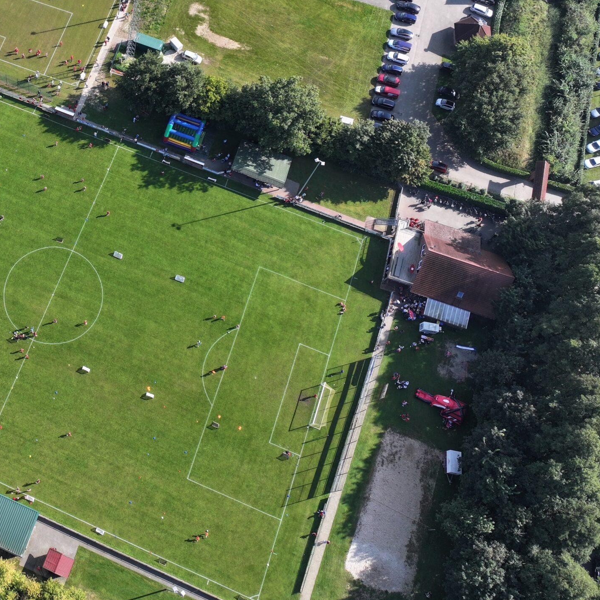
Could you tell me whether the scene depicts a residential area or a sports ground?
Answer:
sports ground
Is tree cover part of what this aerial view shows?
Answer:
Yes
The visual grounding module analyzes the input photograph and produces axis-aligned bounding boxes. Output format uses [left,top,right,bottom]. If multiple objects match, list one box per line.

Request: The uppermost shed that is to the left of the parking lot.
[133,32,164,57]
